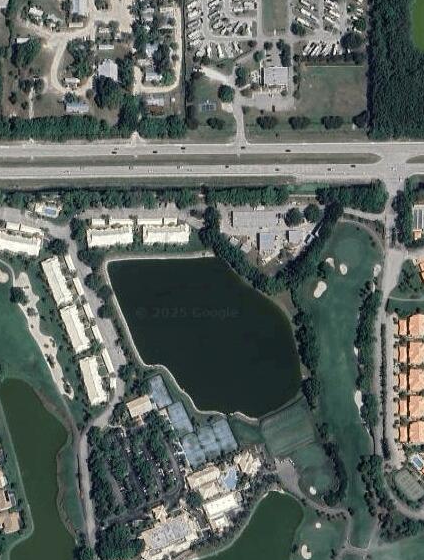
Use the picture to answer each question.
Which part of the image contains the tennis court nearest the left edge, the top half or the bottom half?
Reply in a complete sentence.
The tennis court nearest the left edge sits in the bottom half of the picture.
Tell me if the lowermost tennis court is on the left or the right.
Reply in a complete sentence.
It is on the right.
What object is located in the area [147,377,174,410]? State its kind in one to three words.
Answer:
tennis court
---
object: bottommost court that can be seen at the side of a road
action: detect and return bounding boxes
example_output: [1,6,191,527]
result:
[394,466,424,503]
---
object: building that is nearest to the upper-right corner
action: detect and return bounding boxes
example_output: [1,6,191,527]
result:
[265,66,289,87]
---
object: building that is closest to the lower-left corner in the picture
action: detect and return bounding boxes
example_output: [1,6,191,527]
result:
[0,510,21,532]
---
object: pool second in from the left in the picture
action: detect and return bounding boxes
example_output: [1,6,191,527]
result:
[219,461,244,494]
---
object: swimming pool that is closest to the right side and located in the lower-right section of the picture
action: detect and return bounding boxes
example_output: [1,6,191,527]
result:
[410,453,424,474]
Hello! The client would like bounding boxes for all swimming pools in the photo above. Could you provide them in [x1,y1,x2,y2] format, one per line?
[410,453,424,474]
[219,461,244,494]
[35,201,62,218]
